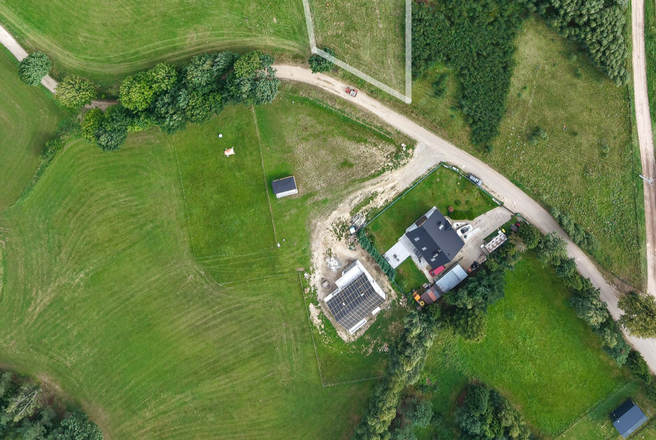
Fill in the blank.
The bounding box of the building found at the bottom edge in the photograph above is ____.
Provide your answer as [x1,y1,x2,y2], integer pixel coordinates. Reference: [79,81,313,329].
[606,393,649,439]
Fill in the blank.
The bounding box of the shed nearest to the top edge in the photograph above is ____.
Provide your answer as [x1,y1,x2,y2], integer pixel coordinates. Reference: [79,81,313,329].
[272,175,298,196]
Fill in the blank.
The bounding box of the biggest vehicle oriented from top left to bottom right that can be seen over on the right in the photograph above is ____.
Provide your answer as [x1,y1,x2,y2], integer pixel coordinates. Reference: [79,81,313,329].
[467,173,484,187]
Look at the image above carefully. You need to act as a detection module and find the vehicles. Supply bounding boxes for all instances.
[467,173,484,187]
[346,87,356,97]
[456,223,473,237]
[429,266,445,277]
[412,290,420,300]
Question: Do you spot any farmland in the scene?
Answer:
Yes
